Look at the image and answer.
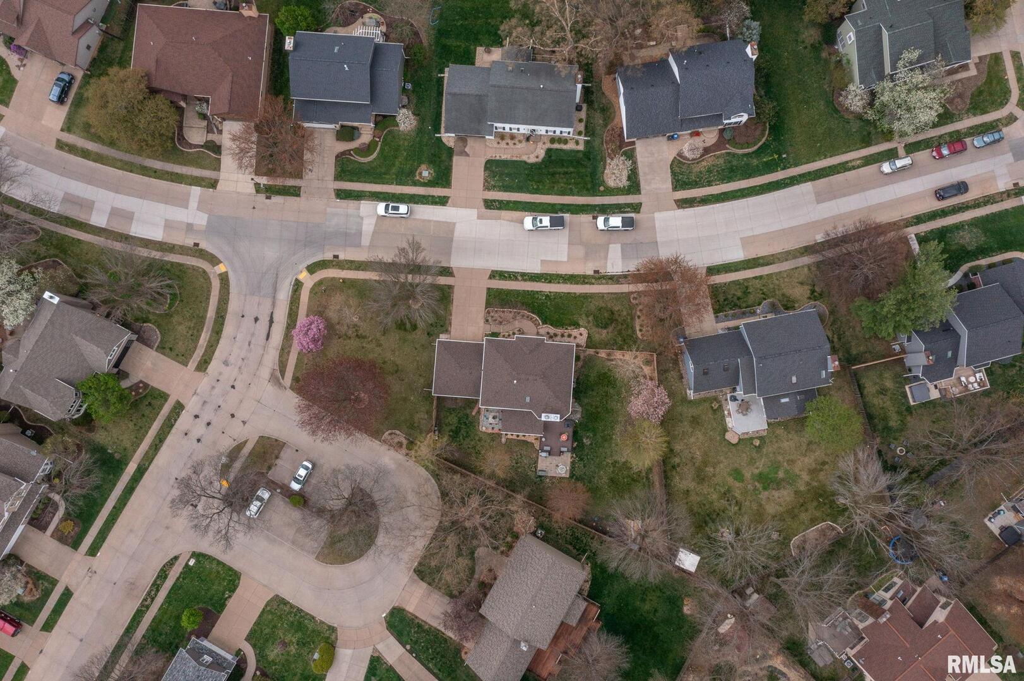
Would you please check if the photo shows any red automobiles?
Yes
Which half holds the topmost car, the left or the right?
left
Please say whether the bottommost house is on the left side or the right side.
left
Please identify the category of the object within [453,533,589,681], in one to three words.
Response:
house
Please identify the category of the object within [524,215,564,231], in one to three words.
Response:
vehicle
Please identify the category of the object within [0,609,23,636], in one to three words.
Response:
car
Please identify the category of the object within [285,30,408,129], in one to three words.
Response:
house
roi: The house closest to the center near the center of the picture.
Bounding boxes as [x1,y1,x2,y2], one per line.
[427,335,578,436]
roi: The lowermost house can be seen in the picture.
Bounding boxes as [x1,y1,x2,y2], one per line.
[161,633,241,681]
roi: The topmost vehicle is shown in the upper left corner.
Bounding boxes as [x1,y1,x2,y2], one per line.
[47,72,74,105]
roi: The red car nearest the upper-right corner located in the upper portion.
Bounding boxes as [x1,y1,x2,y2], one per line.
[929,139,966,161]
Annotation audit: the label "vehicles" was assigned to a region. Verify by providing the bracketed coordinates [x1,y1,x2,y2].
[596,215,635,231]
[969,129,1004,150]
[0,609,23,636]
[291,459,313,491]
[929,139,966,161]
[247,487,271,519]
[878,155,912,175]
[524,215,564,231]
[932,181,967,202]
[47,72,74,105]
[379,202,410,218]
